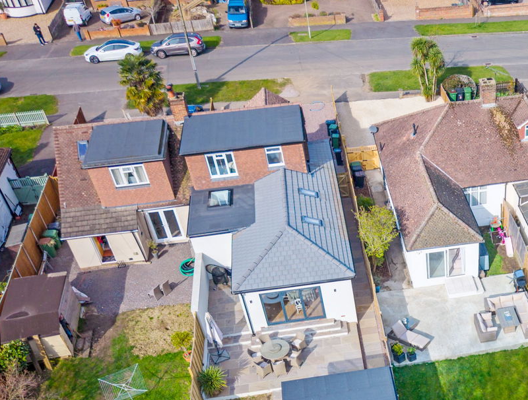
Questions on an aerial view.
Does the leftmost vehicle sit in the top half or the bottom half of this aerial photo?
top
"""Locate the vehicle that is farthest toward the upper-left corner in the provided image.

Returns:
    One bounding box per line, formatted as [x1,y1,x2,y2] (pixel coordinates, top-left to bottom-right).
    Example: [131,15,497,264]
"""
[60,0,88,26]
